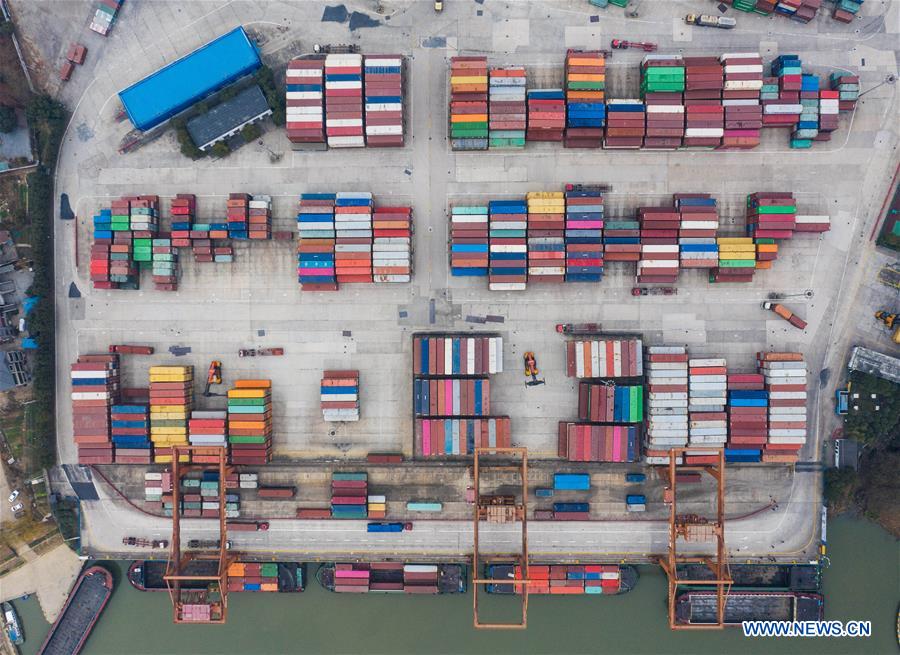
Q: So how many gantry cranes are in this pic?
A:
three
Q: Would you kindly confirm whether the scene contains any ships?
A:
Yes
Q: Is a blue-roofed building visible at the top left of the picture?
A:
Yes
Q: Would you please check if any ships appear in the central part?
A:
No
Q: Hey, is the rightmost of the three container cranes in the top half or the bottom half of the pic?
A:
bottom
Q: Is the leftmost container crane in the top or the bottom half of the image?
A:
bottom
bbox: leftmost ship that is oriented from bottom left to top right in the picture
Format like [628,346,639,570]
[40,564,120,655]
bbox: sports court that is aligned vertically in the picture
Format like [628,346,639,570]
[876,185,900,251]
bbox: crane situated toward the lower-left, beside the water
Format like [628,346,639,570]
[163,448,247,630]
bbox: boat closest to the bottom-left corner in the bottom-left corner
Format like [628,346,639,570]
[4,605,25,644]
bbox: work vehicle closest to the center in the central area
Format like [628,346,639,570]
[524,352,544,389]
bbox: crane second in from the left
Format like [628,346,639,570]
[463,448,531,627]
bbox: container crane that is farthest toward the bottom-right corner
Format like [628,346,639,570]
[650,448,734,627]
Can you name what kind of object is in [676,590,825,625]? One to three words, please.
ship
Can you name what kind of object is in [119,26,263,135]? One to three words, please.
building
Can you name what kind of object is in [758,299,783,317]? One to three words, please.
vehicle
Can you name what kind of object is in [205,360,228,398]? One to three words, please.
work vehicle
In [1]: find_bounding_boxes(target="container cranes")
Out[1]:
[650,448,734,627]
[463,448,531,627]
[163,448,247,630]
